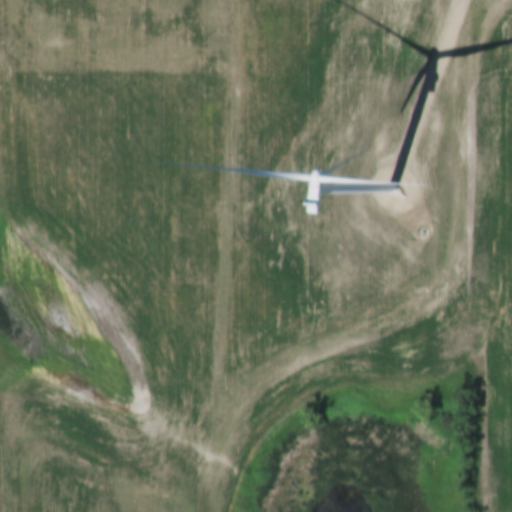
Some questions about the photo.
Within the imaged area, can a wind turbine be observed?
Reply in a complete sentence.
Yes, the image includes a wind turbine.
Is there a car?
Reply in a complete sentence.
No, there isn't any car down there.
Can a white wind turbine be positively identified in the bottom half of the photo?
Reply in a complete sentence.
No, no white wind turbine appears in the bottom half of the photo.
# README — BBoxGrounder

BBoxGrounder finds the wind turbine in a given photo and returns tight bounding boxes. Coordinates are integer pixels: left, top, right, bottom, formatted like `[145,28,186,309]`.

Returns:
[156,148,430,215]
